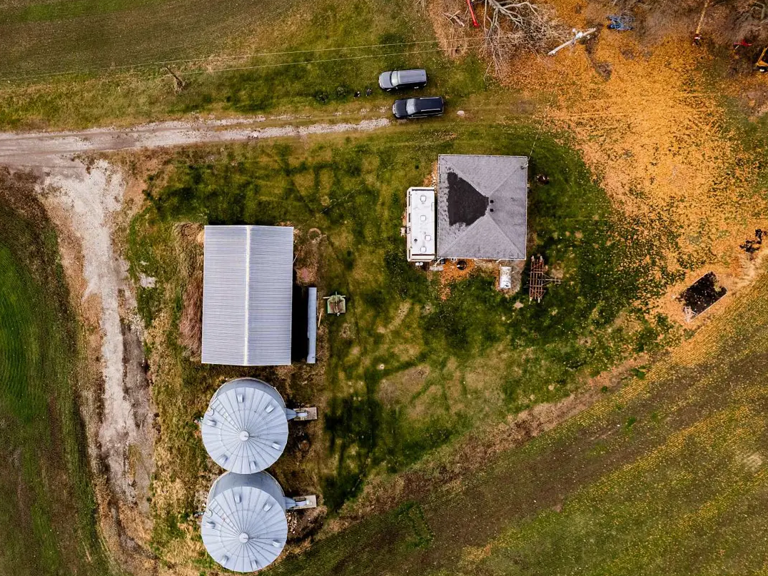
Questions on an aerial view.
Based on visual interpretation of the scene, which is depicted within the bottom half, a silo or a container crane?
silo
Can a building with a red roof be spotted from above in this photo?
No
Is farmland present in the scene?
Yes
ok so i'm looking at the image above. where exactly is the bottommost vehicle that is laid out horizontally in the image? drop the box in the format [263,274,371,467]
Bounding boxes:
[392,95,445,120]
